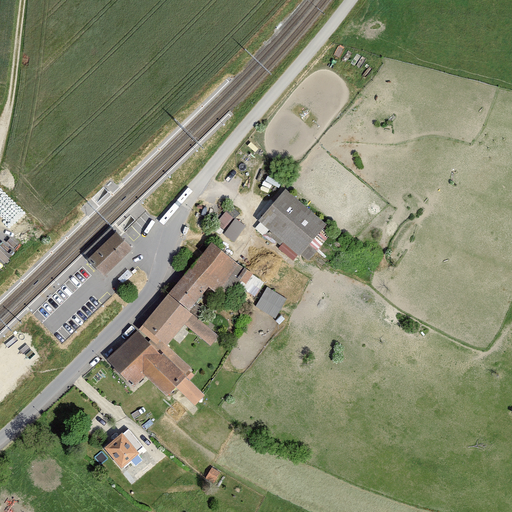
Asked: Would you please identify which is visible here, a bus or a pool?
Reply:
bus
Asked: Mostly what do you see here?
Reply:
farmland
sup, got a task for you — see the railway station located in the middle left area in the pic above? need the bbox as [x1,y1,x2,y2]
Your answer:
[0,76,232,341]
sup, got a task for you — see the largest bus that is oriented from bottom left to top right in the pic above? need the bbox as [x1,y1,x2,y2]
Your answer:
[159,186,194,224]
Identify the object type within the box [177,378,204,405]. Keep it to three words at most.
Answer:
building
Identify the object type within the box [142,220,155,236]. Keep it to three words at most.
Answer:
vehicle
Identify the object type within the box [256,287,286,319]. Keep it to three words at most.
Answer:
shed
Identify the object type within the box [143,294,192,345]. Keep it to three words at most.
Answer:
house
